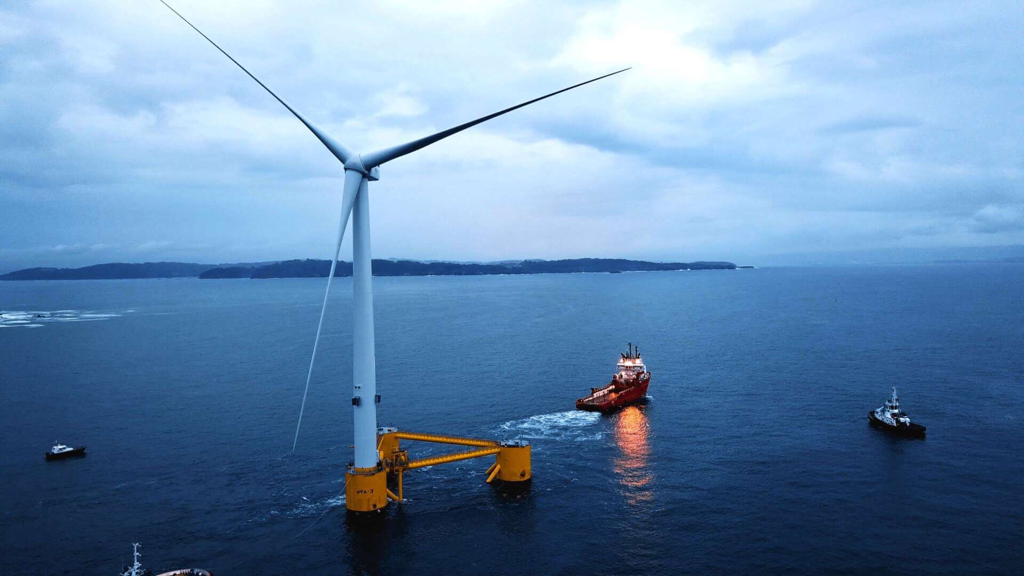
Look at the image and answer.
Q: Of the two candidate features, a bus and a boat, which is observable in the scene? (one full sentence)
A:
The one in the frame is a boat.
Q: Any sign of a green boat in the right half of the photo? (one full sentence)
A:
No, no green boat is visible in the right half of the photo.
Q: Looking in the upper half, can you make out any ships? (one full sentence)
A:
No, no ship can be made out in the upper half.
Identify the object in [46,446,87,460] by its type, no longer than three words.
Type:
boat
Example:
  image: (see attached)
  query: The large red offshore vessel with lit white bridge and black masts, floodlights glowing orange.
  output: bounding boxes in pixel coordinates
[579,340,653,412]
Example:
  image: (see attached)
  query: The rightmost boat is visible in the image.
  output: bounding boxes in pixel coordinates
[871,387,930,437]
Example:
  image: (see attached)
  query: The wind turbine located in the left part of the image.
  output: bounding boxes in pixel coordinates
[159,0,628,471]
